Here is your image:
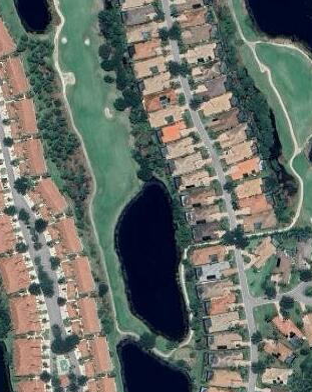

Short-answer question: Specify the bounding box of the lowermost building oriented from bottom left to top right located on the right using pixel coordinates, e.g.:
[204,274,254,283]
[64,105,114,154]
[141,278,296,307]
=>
[245,236,281,272]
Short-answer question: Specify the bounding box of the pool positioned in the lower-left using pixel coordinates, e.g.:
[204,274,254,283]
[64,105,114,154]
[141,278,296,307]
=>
[57,355,70,374]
